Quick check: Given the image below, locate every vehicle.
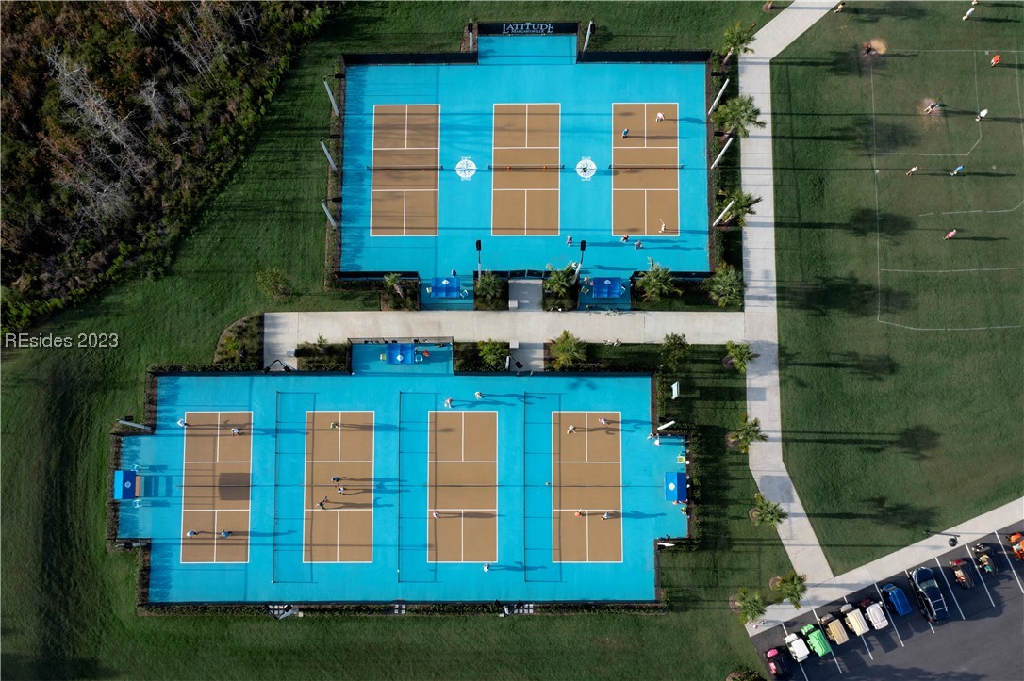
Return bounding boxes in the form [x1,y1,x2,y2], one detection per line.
[952,559,983,590]
[767,649,795,681]
[884,585,914,617]
[861,601,891,633]
[786,634,815,667]
[803,627,833,660]
[915,567,956,625]
[843,607,873,639]
[823,617,852,650]
[976,546,1009,577]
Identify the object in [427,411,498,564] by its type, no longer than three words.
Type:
sports court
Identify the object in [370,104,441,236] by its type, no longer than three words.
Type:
sports court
